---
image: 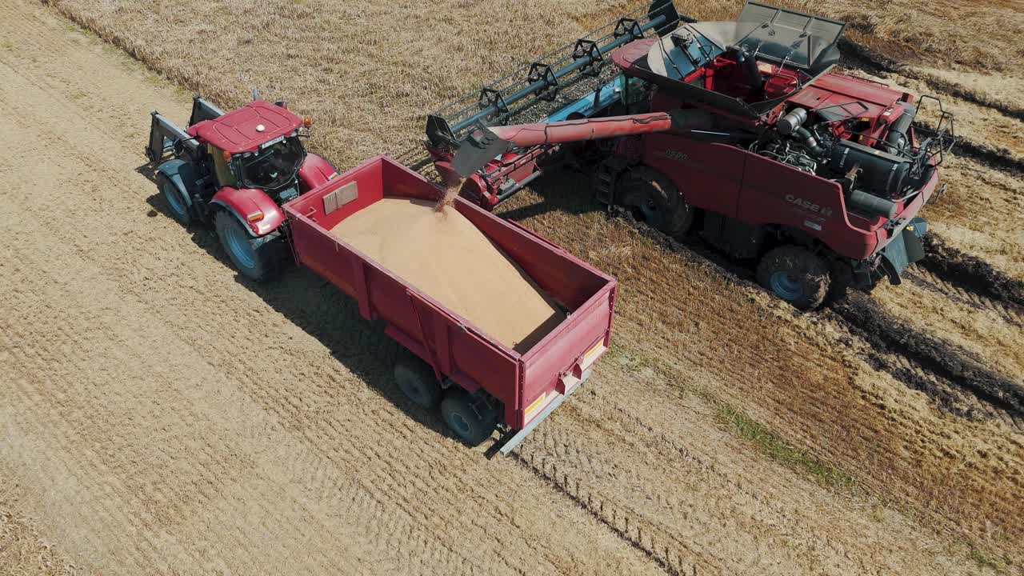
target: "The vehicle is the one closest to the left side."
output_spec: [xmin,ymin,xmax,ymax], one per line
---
[150,91,336,282]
